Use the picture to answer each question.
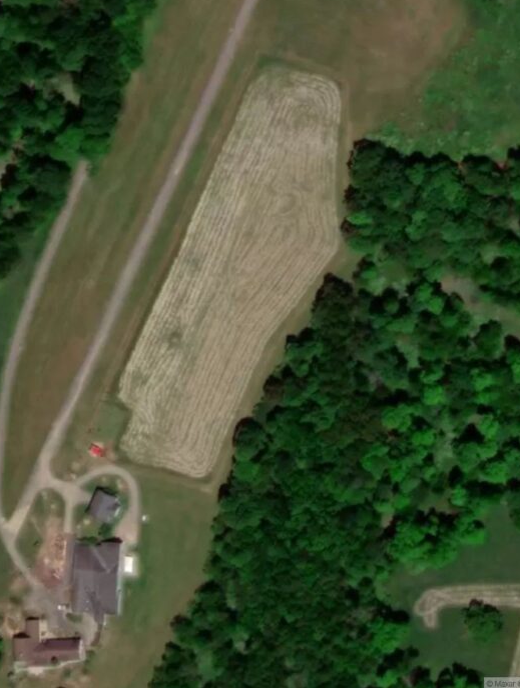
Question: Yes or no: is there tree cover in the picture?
Yes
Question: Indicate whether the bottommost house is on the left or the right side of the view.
left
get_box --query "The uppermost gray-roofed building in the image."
[88,488,119,523]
